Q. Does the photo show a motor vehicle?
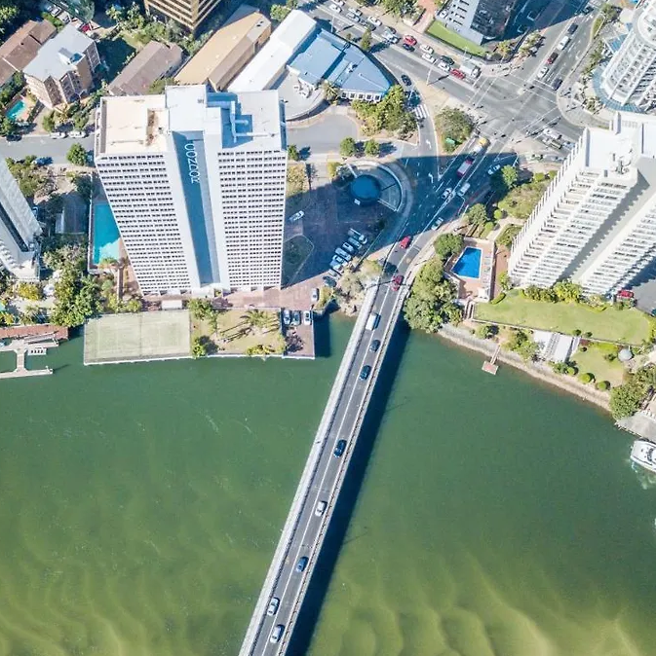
Yes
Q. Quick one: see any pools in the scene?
Yes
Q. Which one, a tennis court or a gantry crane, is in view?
tennis court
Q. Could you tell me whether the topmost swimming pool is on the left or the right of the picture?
left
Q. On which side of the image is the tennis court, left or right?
left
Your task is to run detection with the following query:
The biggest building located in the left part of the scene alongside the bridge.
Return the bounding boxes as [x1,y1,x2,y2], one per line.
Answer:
[93,83,290,300]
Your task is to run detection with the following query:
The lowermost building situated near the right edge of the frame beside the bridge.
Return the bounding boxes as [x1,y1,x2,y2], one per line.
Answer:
[510,113,656,301]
